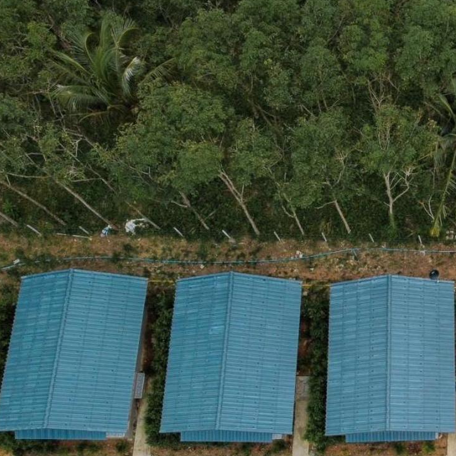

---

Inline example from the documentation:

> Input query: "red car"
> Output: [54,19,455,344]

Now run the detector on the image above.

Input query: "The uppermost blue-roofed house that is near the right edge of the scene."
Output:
[323,275,456,443]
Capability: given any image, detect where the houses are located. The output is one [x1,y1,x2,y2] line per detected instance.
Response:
[323,275,456,443]
[157,272,306,443]
[0,269,155,441]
